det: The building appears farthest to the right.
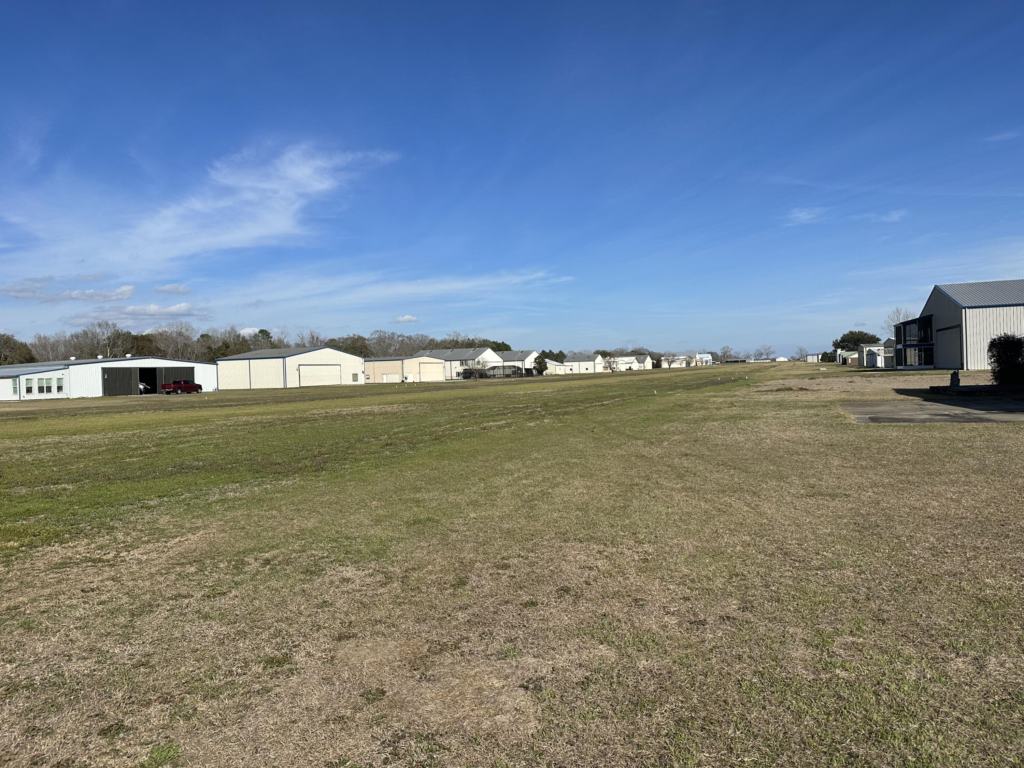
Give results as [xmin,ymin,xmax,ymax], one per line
[890,278,1024,370]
